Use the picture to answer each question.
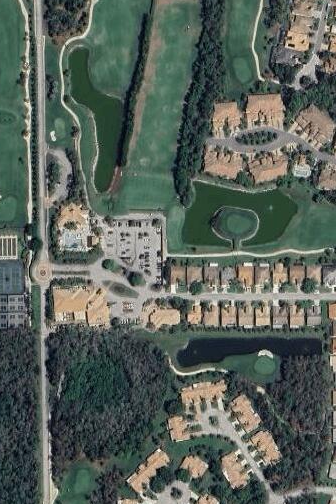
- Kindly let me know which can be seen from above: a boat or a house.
house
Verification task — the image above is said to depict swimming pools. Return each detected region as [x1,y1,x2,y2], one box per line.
[294,163,311,176]
[60,231,89,249]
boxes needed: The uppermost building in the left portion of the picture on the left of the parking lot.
[58,204,87,230]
